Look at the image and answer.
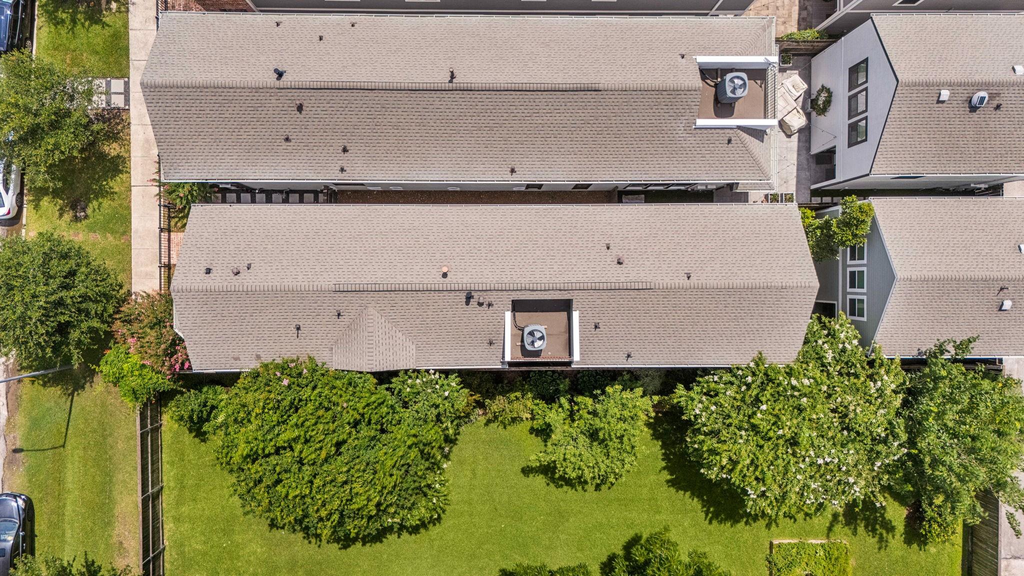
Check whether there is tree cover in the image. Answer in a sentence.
Yes, some tree cover is visible.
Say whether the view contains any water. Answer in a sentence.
No, there is no water in the image.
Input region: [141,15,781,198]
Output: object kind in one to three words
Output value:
house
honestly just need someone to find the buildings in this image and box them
[141,15,781,198]
[809,14,1024,192]
[170,202,819,372]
